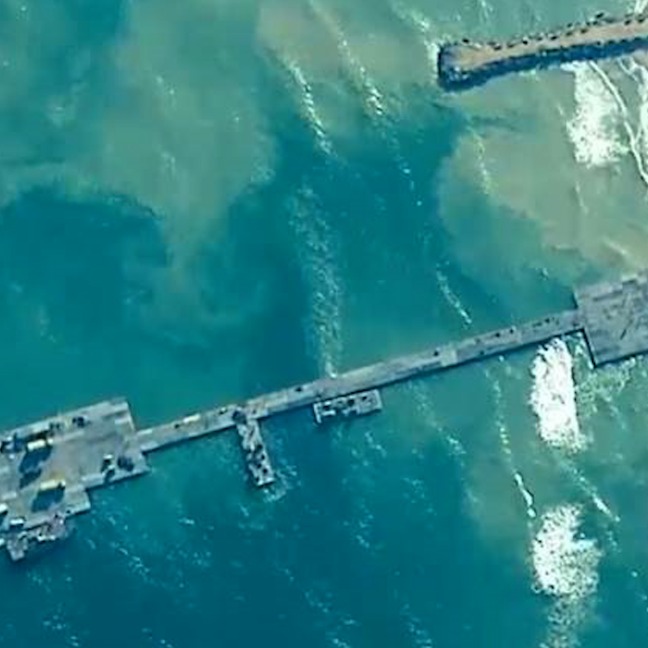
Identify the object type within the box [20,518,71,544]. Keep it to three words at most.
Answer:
boat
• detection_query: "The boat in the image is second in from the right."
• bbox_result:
[230,410,276,487]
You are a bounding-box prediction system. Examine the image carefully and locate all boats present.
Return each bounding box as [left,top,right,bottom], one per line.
[230,410,276,487]
[4,533,27,564]
[314,390,383,423]
[20,518,71,544]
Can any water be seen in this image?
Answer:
Yes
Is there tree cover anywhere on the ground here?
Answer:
No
